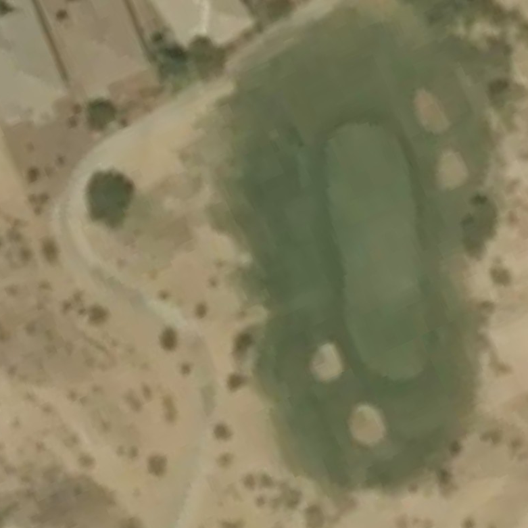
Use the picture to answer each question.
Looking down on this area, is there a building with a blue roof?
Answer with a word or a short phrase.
No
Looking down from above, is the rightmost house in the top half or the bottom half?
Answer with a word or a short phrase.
top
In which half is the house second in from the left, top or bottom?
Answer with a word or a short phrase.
top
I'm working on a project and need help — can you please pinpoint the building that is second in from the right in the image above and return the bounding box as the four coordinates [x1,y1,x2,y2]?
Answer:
[43,0,147,93]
